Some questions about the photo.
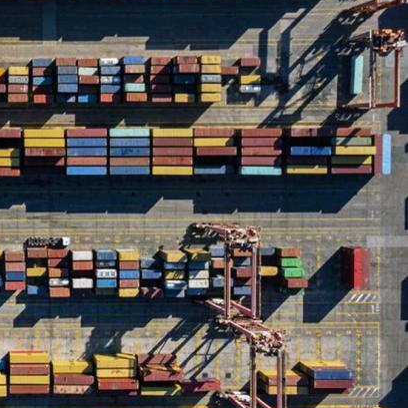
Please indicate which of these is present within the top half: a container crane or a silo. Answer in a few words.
container crane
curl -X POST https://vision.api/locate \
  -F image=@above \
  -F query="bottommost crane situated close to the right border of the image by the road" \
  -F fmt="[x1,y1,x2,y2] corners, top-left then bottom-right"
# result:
[326,25,408,113]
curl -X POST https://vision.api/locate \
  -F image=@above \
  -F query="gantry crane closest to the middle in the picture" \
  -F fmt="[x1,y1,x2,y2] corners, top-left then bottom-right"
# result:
[197,222,265,321]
